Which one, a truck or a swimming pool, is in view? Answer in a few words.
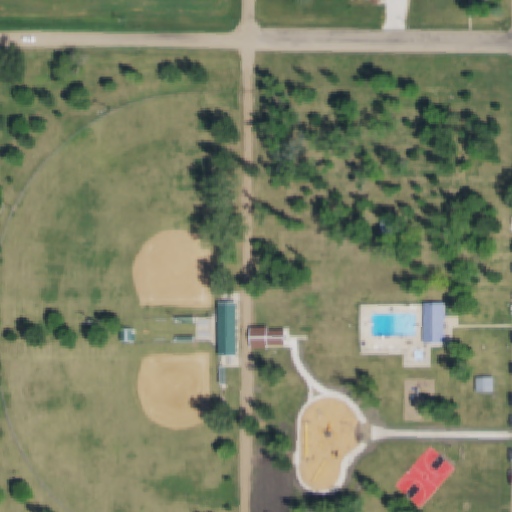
swimming pool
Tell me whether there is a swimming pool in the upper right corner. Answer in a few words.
No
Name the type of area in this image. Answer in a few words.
sports ground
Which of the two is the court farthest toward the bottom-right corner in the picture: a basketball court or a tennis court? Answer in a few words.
basketball court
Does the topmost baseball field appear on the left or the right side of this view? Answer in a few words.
left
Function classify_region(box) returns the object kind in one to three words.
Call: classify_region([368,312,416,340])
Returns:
swimming pool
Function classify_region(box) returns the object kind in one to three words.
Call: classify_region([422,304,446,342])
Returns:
building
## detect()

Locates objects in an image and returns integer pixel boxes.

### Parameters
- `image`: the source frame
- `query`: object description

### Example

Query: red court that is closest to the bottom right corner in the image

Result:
[397,448,454,508]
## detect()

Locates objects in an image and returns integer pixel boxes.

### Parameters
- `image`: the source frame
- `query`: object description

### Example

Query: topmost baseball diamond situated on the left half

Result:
[0,92,213,326]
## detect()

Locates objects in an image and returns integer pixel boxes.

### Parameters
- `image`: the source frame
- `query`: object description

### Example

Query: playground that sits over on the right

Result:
[300,396,359,488]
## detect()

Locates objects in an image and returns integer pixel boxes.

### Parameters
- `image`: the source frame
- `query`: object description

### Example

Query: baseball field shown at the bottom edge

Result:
[0,326,213,512]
